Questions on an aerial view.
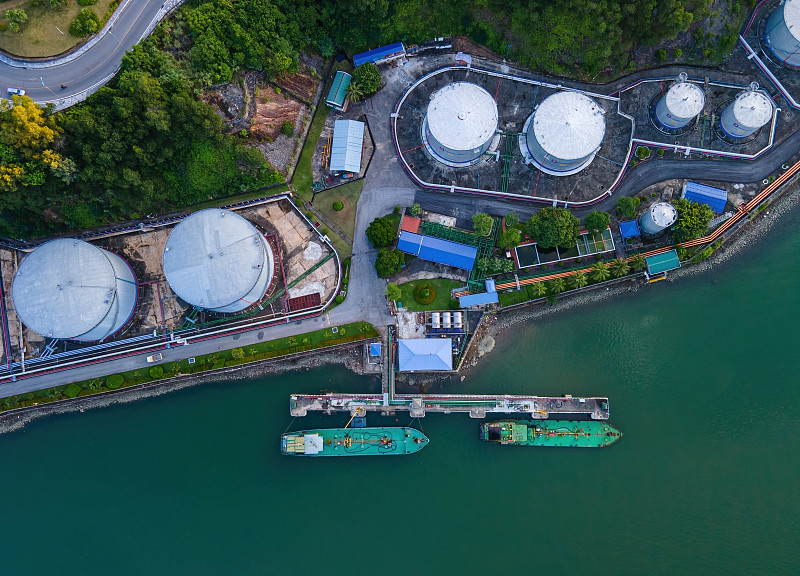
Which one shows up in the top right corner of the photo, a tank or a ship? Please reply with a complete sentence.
The feature located in the top right corner of the photo is a tank.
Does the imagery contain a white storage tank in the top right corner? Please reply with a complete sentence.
Yes, a white storage tank shows up in the top right corner.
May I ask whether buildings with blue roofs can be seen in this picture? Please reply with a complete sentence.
Yes, looking at the shot, I can spot a building with a blue roof.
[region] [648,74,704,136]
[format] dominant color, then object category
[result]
white storage tank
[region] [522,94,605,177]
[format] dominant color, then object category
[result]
white storage tank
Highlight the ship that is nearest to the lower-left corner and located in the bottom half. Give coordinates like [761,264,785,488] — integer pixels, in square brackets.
[281,427,430,456]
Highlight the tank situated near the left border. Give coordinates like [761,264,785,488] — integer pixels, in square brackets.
[11,236,144,346]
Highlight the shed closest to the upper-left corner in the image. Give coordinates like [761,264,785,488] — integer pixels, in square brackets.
[327,71,352,109]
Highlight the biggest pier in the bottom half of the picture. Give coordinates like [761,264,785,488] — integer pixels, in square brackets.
[290,395,609,420]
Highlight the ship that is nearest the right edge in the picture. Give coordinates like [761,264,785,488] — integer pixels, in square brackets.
[480,420,622,447]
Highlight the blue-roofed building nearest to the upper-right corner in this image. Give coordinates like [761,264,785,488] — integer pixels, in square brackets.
[679,180,727,215]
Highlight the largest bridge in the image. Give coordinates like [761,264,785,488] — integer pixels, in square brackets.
[382,323,397,403]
